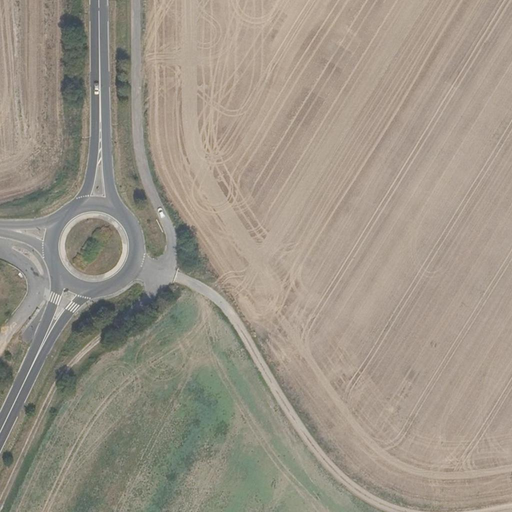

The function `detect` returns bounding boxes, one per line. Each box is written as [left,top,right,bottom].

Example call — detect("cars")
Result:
[158,207,166,219]
[94,83,100,95]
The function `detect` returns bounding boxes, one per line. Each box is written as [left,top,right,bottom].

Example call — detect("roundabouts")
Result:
[0,150,146,320]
